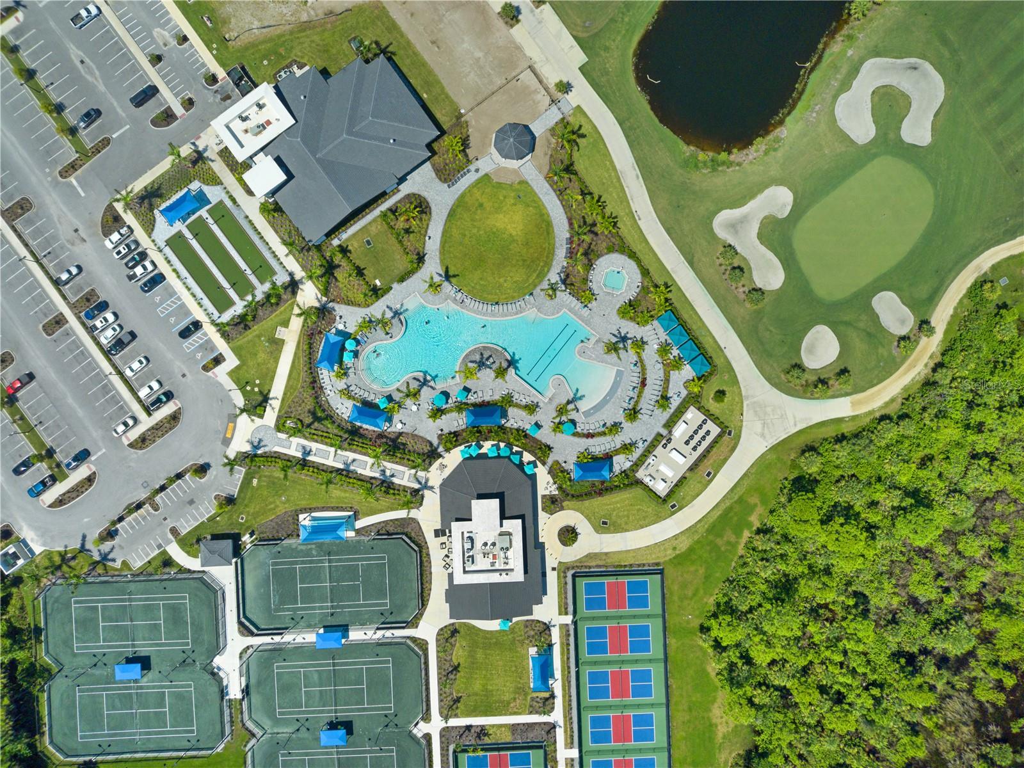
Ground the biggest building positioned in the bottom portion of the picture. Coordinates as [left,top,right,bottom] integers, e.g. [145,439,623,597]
[439,458,542,620]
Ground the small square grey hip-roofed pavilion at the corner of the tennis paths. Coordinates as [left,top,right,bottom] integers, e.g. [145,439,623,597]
[200,539,236,567]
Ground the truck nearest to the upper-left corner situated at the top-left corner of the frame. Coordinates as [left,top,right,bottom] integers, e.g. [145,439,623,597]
[71,4,100,29]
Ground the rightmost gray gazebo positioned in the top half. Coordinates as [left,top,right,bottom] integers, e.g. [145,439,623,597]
[493,121,534,164]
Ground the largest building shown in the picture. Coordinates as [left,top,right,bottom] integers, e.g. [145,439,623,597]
[210,53,440,245]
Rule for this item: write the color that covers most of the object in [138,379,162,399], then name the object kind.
white car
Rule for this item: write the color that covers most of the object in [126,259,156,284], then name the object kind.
white truck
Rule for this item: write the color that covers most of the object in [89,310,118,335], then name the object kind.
white truck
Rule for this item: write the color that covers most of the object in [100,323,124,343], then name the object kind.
white car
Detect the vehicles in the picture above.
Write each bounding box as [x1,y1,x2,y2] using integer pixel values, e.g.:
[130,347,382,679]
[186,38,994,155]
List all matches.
[57,265,81,285]
[145,389,175,413]
[65,449,90,469]
[85,300,109,320]
[115,239,138,260]
[138,379,162,399]
[13,454,35,474]
[100,323,124,343]
[114,415,137,435]
[105,225,134,249]
[124,249,148,269]
[89,310,118,335]
[141,272,165,293]
[126,259,156,284]
[129,84,158,109]
[125,356,149,376]
[77,108,102,128]
[28,473,58,497]
[178,320,202,340]
[6,371,35,395]
[108,330,137,354]
[71,4,100,29]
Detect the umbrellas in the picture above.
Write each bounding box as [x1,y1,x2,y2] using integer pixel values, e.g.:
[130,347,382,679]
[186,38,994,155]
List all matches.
[499,446,511,458]
[510,452,521,463]
[468,443,481,458]
[343,352,353,362]
[499,619,510,630]
[456,389,469,401]
[433,394,447,407]
[526,422,542,438]
[345,339,356,350]
[487,446,498,457]
[458,447,471,460]
[377,395,390,410]
[562,422,576,435]
[523,463,536,475]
